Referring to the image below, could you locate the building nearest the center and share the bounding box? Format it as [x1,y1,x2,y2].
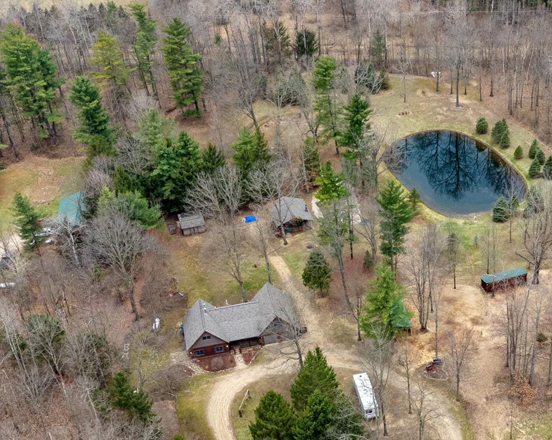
[264,199,311,237]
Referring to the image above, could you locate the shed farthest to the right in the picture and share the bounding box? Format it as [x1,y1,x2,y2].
[477,258,530,292]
